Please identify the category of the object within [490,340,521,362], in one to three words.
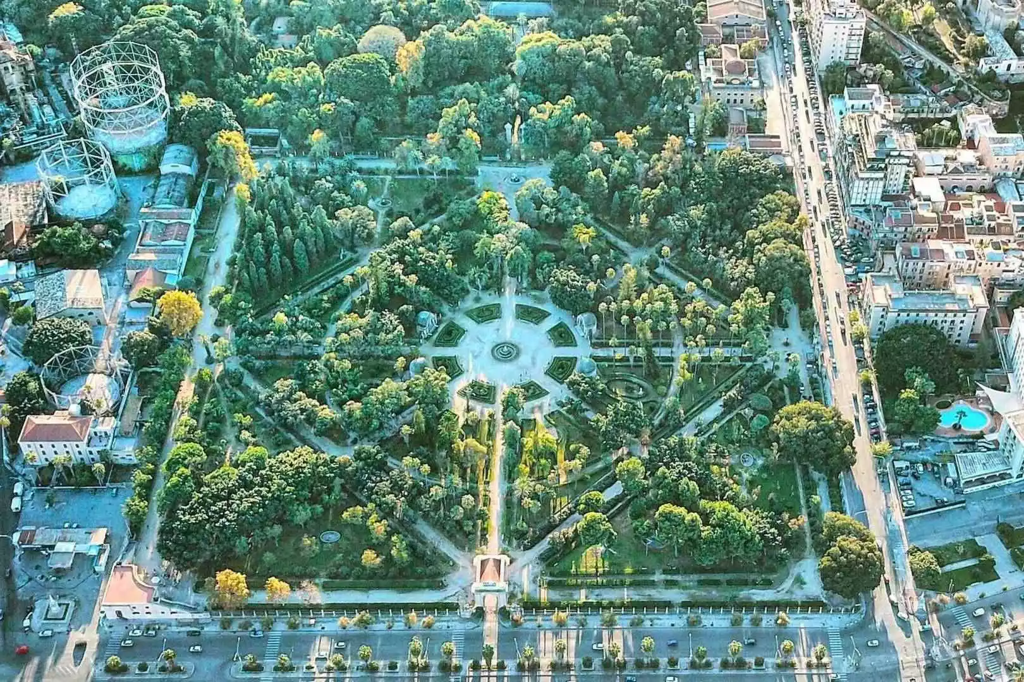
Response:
fountain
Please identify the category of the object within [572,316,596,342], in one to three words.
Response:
building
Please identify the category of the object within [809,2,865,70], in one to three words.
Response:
building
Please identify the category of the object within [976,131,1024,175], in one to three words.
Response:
house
